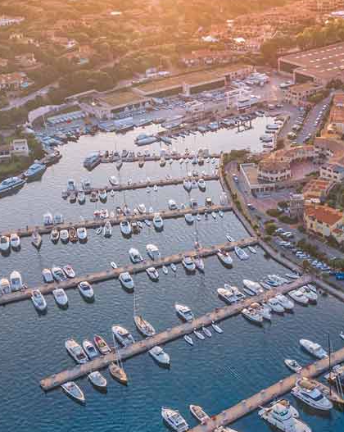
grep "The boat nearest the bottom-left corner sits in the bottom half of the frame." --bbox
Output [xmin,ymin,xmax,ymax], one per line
[60,378,84,404]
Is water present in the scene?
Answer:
Yes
